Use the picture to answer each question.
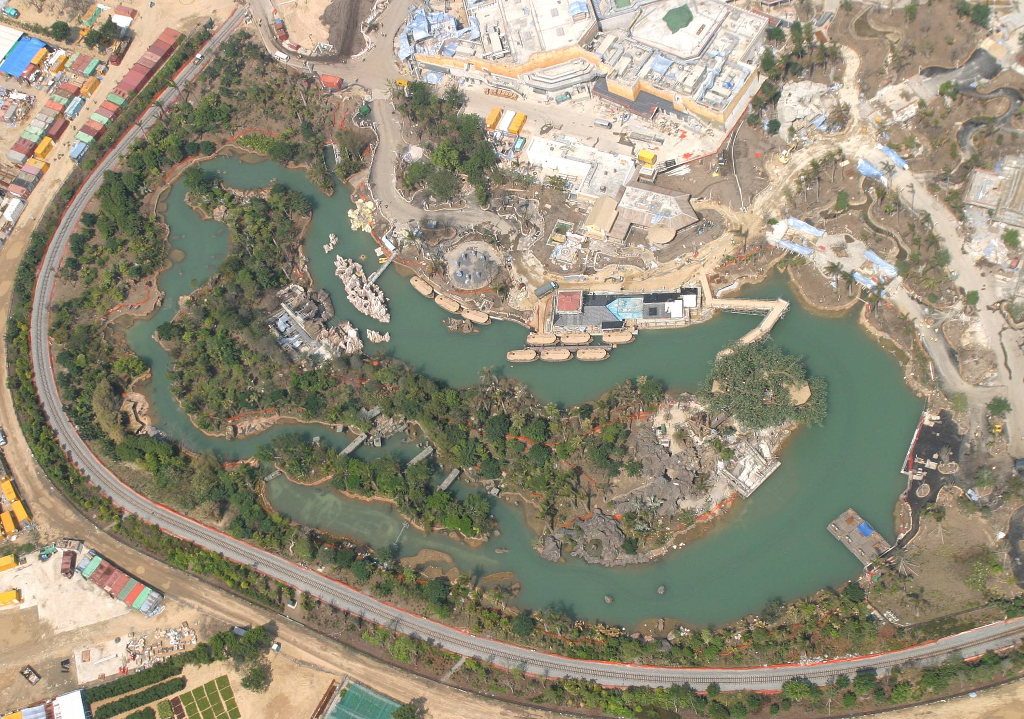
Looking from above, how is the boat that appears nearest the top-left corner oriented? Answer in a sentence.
From this overhead view, the boat that appears nearest the top-left corner appears to run on a diagonal.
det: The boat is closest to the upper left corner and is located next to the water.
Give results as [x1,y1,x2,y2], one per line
[409,278,437,301]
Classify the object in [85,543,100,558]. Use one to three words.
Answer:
vehicle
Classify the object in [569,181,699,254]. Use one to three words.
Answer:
building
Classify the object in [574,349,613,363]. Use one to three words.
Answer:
boat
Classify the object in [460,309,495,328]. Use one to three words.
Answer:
boat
